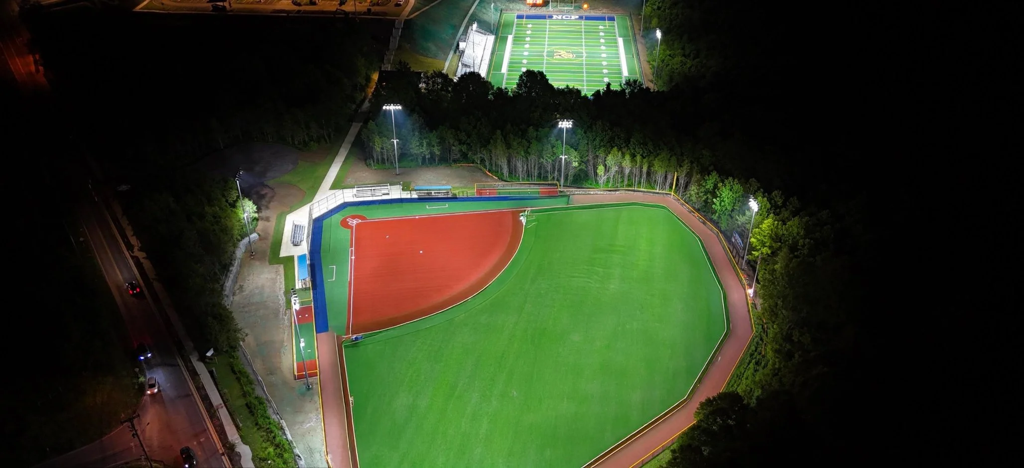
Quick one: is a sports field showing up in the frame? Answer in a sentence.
Yes, there is a sports field in the image.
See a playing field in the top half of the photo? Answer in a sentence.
Yes, there is a playing field in the top half of the photo.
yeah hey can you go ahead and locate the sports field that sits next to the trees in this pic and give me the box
[506,19,623,96]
